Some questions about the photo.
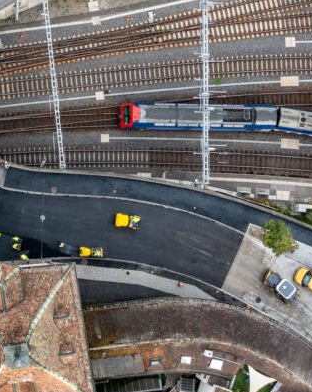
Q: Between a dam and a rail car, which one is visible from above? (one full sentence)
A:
This aerial view contains a rail car.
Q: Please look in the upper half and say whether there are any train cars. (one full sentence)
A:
Yes, a train car shows up in the upper half.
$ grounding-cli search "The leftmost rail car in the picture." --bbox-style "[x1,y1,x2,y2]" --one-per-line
[113,104,273,135]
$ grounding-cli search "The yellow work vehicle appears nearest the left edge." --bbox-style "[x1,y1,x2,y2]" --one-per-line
[78,245,103,258]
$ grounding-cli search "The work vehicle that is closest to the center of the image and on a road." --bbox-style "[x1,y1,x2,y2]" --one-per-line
[113,214,141,228]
